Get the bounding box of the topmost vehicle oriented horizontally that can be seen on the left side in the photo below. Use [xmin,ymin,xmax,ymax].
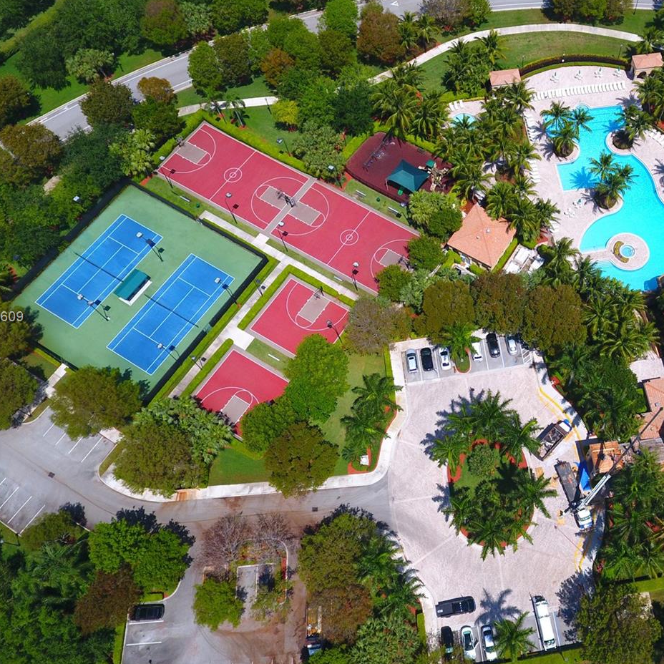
[133,604,167,622]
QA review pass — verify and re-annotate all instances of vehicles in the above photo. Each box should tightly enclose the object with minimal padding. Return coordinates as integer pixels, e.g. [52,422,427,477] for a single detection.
[439,597,474,615]
[458,625,476,658]
[419,348,434,373]
[405,348,420,373]
[556,406,664,533]
[504,333,521,357]
[537,420,576,464]
[530,596,558,648]
[484,333,501,358]
[467,333,486,366]
[440,625,454,654]
[303,624,323,664]
[481,627,495,660]
[133,604,167,622]
[438,347,452,370]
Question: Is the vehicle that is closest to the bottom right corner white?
Yes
